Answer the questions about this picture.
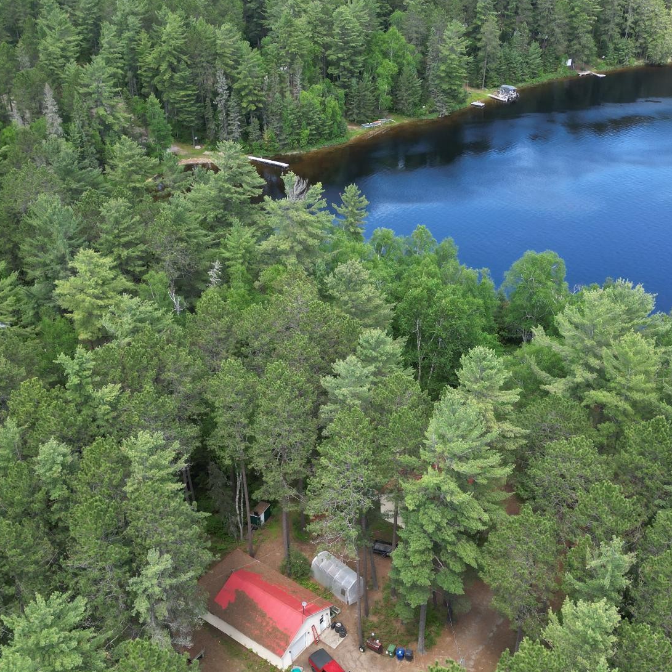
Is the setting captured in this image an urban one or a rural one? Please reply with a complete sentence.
The area shown here is rural.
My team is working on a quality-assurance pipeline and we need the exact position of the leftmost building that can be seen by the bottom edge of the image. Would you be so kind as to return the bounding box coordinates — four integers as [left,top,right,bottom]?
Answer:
[189,548,336,671]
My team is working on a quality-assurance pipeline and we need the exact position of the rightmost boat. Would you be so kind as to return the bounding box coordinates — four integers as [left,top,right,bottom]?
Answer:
[496,88,518,100]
